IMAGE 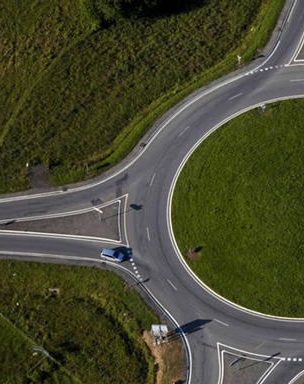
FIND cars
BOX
[99,246,125,263]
